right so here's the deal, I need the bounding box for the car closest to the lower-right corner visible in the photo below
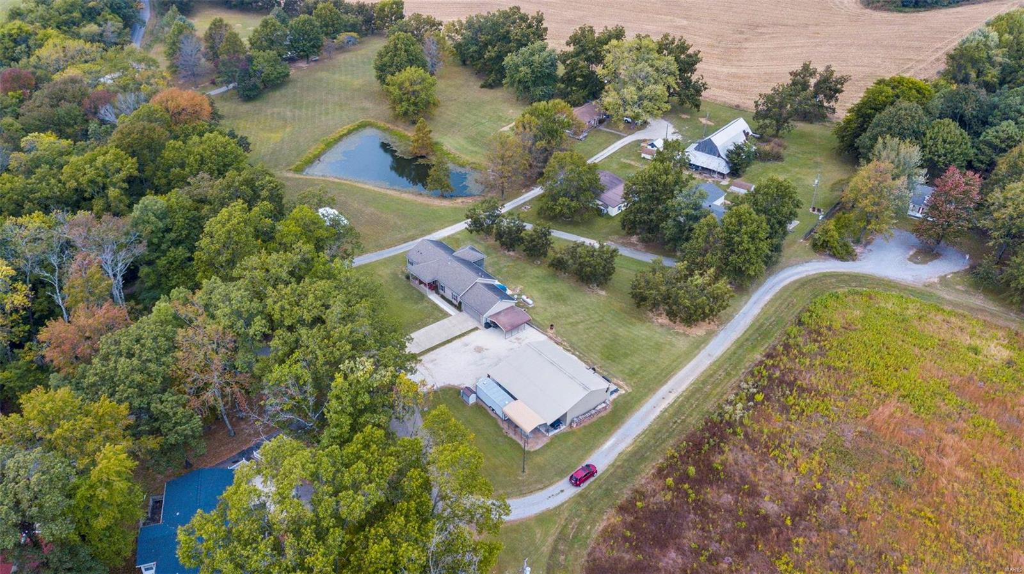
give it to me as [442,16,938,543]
[568,466,599,491]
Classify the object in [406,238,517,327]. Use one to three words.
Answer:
house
